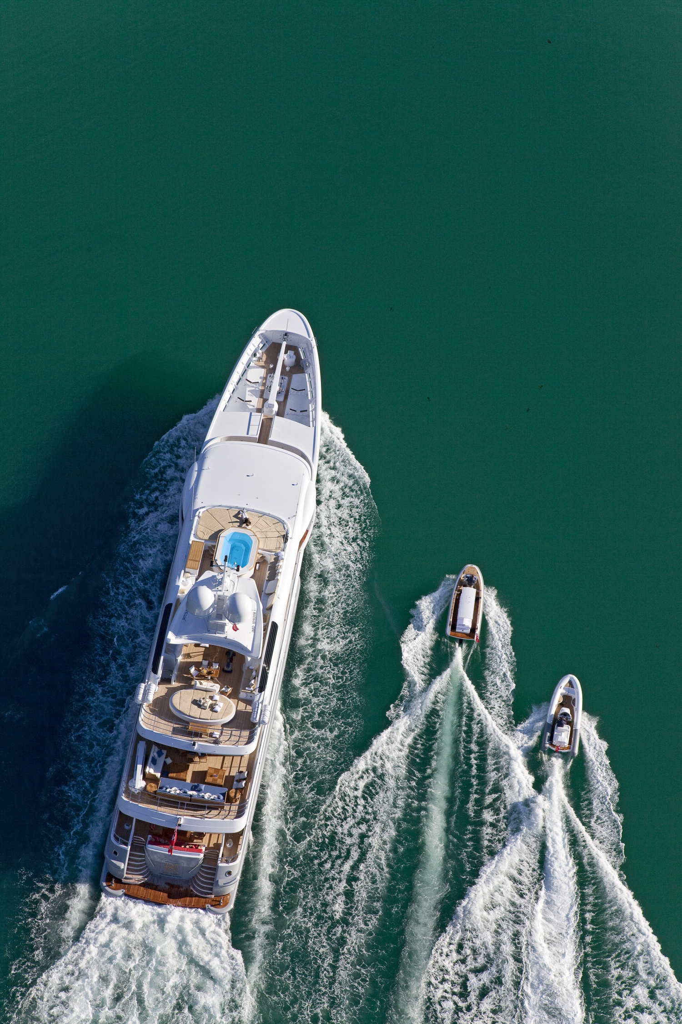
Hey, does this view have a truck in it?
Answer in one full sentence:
No, I can see no truck in this picture.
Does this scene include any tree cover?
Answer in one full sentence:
No, no tree cover is visible.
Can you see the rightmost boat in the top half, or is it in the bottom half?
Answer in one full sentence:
Seen from above, the rightmost boat lies in the bottom half of the view.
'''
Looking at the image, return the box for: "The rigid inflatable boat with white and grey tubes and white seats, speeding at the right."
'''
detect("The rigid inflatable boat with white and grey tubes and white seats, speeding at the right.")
[542,674,582,761]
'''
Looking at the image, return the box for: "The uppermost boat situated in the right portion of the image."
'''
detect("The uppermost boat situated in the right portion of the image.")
[445,564,485,647]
